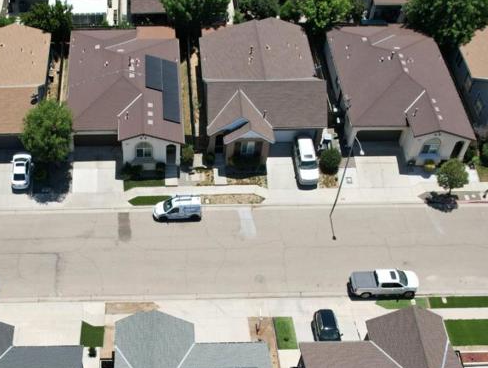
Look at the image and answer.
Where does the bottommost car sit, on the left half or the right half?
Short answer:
right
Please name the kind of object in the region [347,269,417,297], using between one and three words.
truck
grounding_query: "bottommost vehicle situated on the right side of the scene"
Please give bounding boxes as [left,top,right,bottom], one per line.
[312,305,344,342]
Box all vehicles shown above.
[312,305,344,342]
[293,141,319,184]
[10,155,33,192]
[347,269,417,297]
[152,198,202,224]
